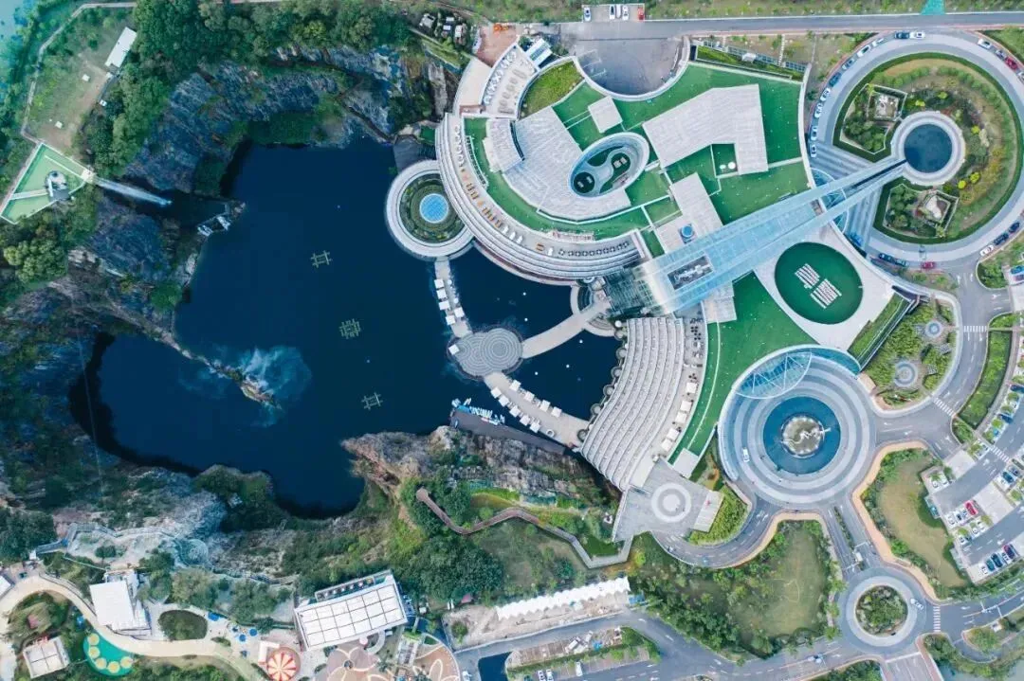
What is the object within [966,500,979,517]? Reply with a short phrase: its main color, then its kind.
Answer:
red vehicle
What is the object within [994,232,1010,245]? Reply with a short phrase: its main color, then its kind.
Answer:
blue vehicle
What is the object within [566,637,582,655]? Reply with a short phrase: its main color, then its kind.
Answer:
white vehicle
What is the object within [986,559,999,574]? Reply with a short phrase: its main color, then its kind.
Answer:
blue vehicle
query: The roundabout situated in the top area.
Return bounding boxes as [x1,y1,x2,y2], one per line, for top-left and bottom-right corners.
[807,30,1024,267]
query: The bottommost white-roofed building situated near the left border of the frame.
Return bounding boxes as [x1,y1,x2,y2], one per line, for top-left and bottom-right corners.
[24,635,75,679]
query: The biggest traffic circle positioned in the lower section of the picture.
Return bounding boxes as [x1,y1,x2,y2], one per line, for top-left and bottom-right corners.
[722,361,877,508]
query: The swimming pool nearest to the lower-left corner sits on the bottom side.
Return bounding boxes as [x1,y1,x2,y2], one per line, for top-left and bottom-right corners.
[83,629,135,678]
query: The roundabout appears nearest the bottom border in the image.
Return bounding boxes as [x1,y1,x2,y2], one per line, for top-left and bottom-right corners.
[836,564,928,656]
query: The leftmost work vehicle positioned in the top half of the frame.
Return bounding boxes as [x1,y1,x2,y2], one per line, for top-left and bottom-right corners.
[493,20,515,32]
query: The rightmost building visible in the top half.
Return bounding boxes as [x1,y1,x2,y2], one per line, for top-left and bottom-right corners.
[920,192,955,221]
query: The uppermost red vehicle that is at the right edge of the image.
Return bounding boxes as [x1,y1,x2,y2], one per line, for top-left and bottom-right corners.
[1006,56,1021,69]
